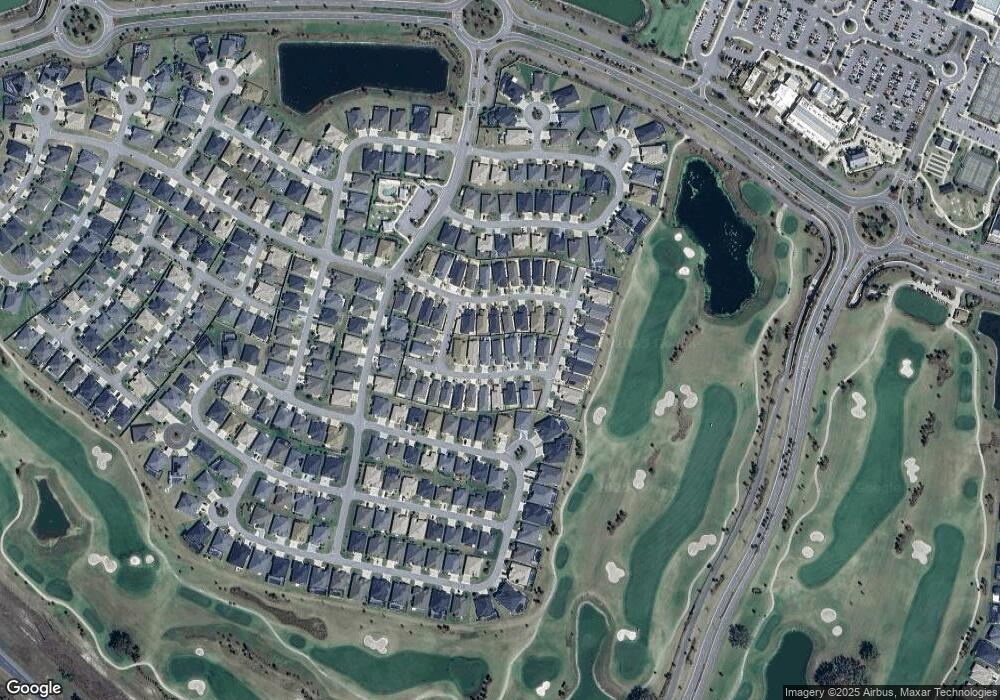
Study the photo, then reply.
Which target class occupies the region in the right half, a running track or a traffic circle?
traffic circle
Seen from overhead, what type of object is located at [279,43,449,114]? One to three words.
pond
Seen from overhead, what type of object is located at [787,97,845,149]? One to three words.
building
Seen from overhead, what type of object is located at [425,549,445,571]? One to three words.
house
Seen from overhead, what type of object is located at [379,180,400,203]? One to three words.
swimming pool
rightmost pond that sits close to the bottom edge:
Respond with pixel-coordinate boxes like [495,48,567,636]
[762,630,812,700]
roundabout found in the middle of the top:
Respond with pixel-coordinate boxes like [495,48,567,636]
[453,0,513,49]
